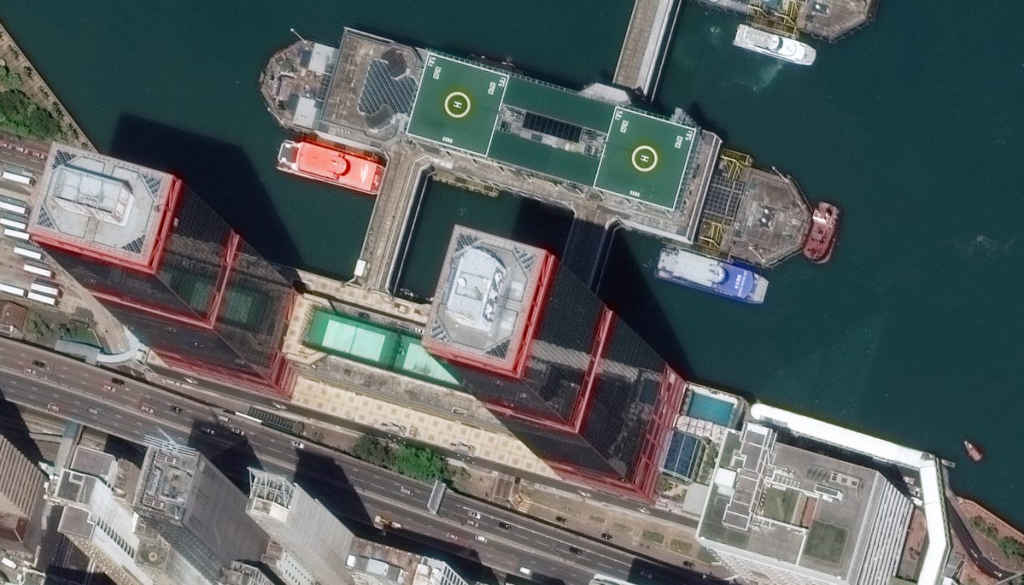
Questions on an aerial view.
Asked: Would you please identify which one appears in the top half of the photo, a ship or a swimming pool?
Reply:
ship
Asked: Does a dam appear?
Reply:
No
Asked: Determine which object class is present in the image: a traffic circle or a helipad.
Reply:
helipad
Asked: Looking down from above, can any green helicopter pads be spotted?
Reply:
Yes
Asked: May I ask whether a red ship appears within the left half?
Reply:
Yes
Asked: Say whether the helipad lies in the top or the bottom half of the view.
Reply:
top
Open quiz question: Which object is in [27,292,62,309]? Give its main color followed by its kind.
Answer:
white vehicle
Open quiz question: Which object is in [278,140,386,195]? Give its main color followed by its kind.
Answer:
red ship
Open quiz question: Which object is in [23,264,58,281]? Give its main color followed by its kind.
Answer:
white vehicle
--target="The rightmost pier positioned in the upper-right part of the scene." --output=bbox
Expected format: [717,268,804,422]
[793,0,880,47]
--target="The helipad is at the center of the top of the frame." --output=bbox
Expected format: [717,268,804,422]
[406,50,706,216]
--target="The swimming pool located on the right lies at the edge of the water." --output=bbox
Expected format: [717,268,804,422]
[681,384,753,432]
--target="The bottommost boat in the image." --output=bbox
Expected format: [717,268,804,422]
[964,440,983,462]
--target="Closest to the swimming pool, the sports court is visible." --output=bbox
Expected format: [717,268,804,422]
[664,431,702,481]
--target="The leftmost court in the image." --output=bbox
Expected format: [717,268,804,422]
[302,305,400,368]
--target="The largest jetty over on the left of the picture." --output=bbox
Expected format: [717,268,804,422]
[258,39,338,135]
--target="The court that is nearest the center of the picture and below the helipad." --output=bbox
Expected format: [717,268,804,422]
[391,329,473,391]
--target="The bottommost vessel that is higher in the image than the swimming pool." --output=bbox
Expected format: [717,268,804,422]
[655,248,769,305]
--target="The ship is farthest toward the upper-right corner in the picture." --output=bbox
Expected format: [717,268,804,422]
[733,23,817,66]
